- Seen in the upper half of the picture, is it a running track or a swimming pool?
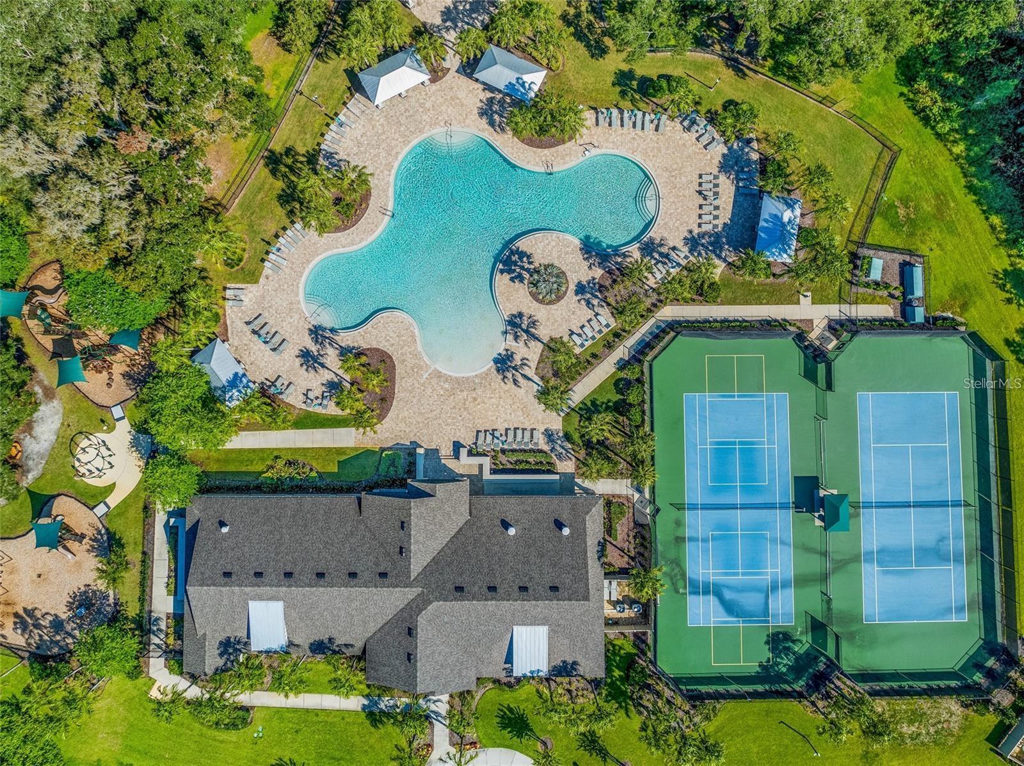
swimming pool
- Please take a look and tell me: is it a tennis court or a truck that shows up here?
tennis court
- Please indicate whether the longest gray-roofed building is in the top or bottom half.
bottom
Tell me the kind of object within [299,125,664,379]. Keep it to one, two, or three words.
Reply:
swimming pool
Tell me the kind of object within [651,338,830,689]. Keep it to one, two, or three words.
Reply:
tennis court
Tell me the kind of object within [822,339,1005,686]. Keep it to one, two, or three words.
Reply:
tennis court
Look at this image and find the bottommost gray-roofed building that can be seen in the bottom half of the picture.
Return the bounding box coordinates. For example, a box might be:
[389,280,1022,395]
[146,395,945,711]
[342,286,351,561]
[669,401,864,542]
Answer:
[185,473,604,698]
